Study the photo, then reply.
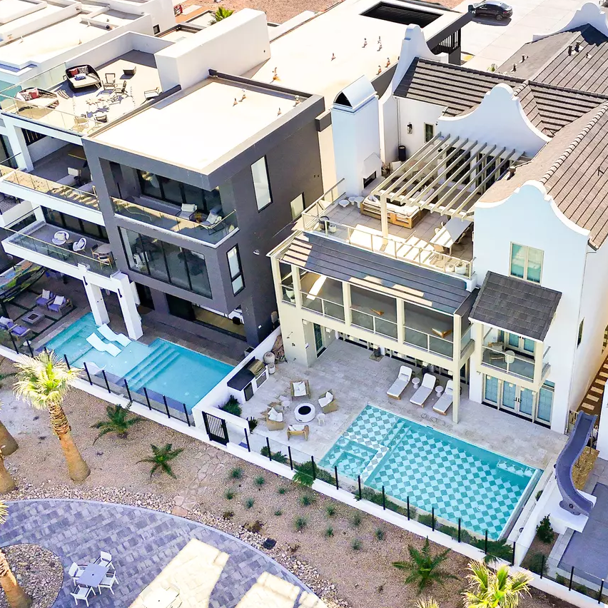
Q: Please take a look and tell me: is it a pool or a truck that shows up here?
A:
pool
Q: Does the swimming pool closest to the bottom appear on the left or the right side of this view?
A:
right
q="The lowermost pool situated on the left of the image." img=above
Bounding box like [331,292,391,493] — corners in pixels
[25,305,225,411]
